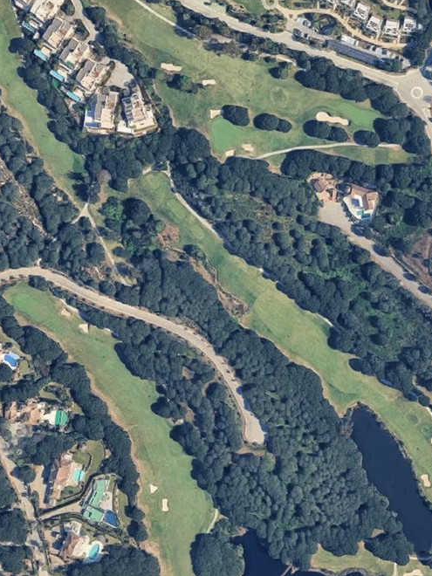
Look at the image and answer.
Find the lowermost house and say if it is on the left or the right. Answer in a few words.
left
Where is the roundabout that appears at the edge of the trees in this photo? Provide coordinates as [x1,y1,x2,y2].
[394,69,432,112]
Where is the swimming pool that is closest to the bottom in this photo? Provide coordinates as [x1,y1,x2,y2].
[86,541,101,562]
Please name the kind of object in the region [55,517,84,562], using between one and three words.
house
